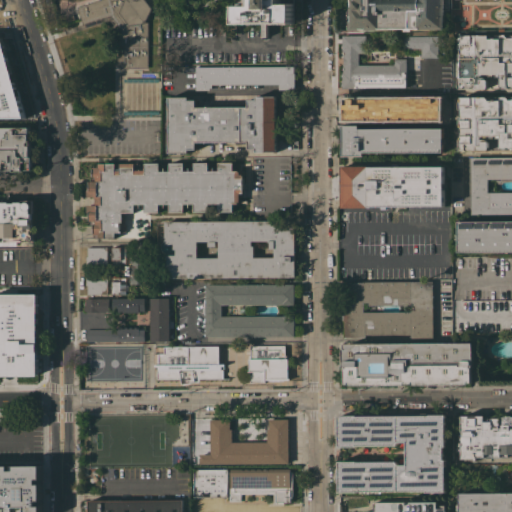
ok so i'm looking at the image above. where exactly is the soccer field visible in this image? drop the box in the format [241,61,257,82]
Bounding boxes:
[91,416,179,465]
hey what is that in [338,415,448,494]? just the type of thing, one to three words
building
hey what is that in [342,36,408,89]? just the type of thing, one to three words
house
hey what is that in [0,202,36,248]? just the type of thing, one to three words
building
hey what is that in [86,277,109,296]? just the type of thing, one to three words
house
